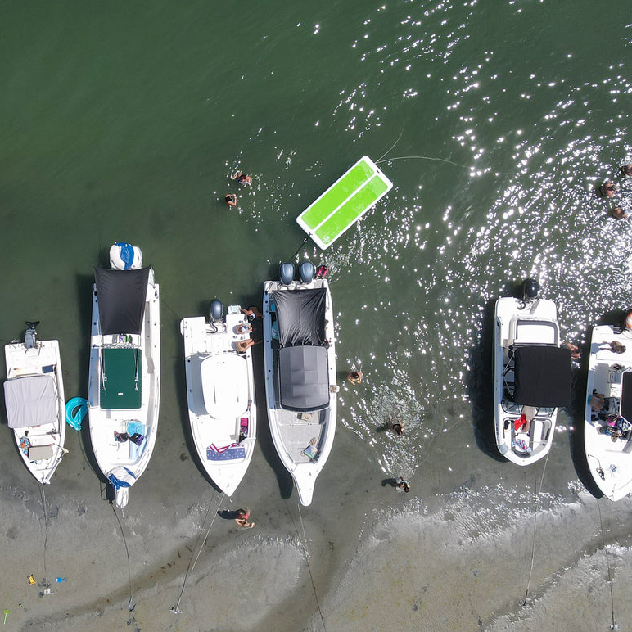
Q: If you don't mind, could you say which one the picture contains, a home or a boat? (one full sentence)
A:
The image shows a boat.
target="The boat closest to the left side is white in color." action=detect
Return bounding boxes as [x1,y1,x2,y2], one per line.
[5,321,68,484]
